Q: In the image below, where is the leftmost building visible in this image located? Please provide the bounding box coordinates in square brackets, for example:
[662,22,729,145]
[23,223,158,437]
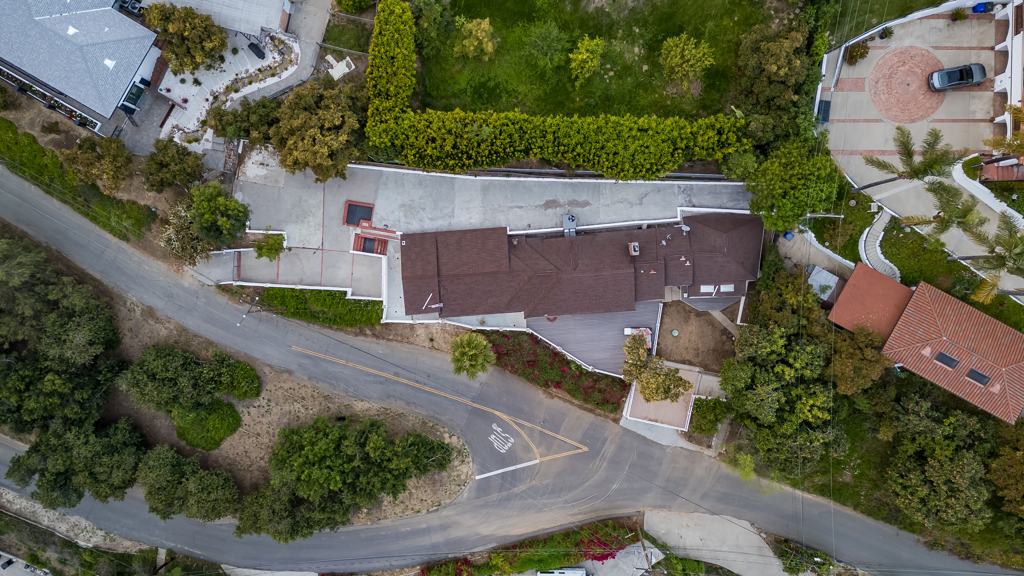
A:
[0,0,163,123]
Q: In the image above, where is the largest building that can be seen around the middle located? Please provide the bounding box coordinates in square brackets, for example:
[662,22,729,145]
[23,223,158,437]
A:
[401,216,764,320]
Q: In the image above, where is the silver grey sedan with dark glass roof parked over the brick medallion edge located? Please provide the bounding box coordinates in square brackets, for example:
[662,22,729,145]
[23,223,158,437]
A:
[929,59,990,92]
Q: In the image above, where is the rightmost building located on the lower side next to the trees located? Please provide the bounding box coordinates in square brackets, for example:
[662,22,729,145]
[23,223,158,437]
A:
[876,280,1024,426]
